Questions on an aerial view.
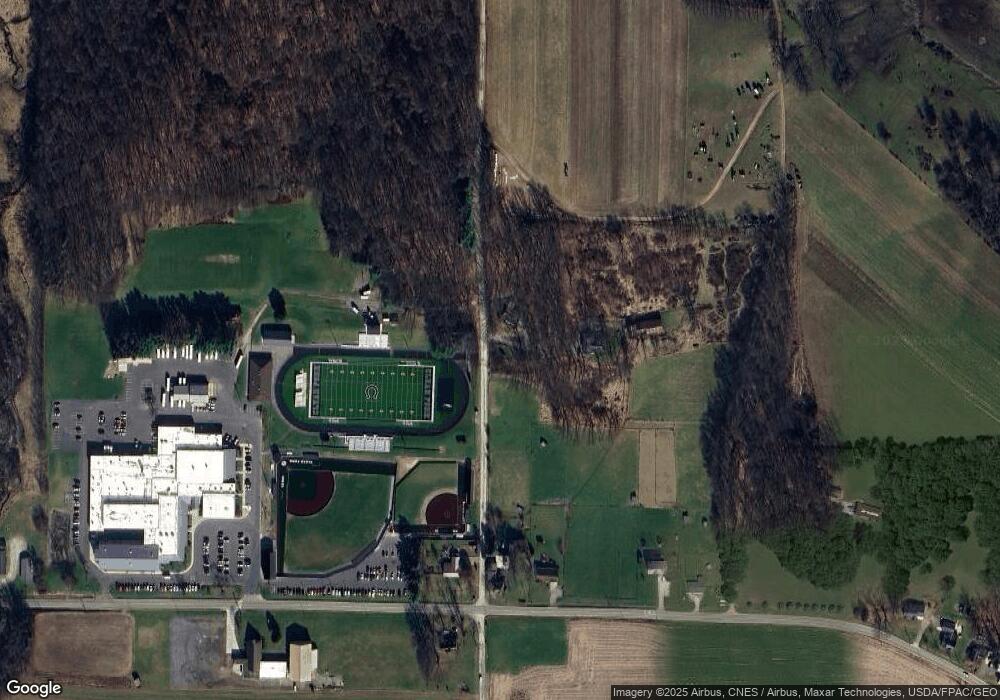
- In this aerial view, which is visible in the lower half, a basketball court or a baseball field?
baseball field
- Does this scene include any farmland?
Yes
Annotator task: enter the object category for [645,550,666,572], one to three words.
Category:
house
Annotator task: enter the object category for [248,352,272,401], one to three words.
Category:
building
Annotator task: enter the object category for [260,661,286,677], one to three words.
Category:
shed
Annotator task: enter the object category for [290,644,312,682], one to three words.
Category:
barn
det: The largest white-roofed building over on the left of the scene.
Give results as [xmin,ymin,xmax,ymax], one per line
[90,427,235,572]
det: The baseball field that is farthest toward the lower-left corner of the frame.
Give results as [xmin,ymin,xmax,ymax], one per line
[277,457,396,578]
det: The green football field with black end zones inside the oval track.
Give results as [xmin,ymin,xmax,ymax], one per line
[282,356,460,427]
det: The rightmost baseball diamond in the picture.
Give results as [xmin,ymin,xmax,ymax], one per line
[397,460,465,533]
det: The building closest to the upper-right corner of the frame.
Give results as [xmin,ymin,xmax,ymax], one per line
[625,314,664,334]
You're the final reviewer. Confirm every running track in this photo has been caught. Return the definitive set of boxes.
[269,342,470,437]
